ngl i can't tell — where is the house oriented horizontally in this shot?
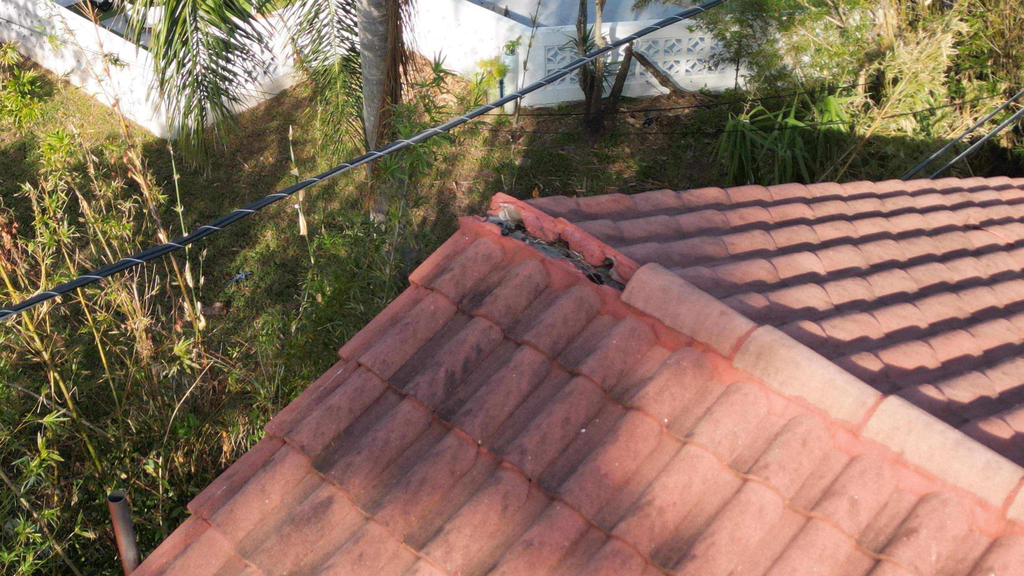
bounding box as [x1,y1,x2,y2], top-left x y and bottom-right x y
[125,168,1024,576]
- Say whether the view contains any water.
No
